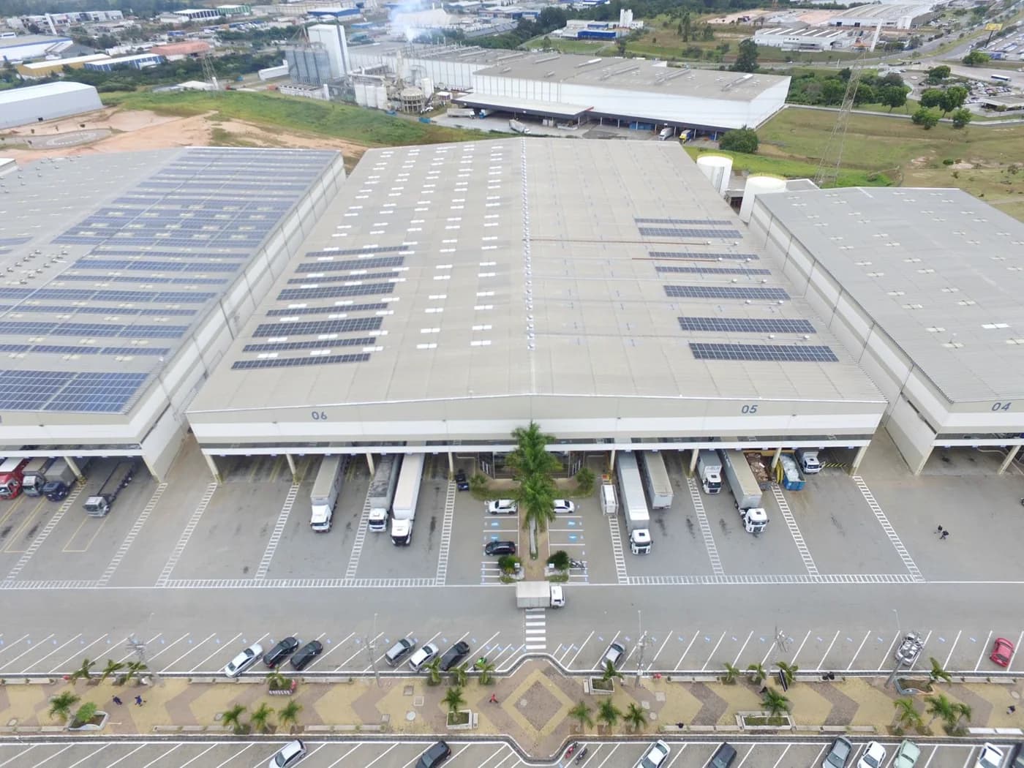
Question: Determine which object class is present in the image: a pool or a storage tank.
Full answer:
Looking from above, you can make out a storage tank.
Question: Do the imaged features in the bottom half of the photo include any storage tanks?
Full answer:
No, no storage tank appears in the bottom half of the photo.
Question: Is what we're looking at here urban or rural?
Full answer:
This place is urban.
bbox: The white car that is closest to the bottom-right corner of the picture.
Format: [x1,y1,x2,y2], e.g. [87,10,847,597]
[982,741,1008,768]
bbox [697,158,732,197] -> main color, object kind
white storage tank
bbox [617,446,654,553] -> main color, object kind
white truck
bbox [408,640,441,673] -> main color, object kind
white car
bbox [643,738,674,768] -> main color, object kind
white car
